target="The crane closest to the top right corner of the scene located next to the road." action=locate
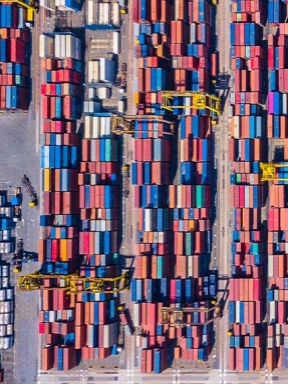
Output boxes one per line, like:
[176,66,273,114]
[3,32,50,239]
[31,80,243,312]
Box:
[161,90,223,115]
